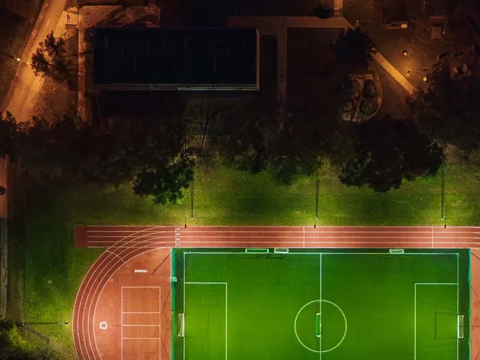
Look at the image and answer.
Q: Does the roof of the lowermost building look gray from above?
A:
No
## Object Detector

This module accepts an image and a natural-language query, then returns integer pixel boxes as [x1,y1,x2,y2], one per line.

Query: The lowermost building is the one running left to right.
[94,27,258,90]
